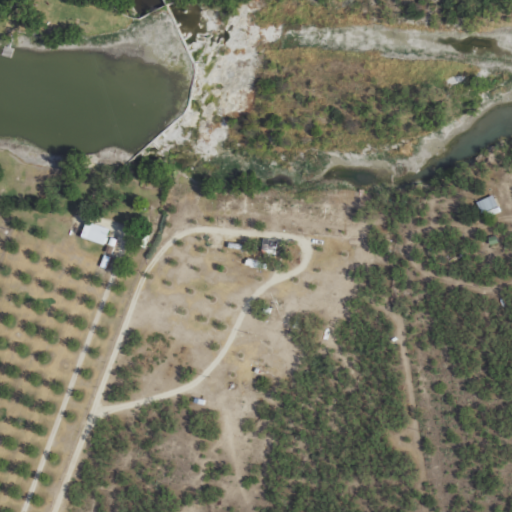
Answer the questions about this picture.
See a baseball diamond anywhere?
No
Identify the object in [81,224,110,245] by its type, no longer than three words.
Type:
house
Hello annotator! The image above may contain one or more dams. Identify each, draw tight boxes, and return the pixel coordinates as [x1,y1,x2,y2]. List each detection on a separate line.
[132,0,198,161]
